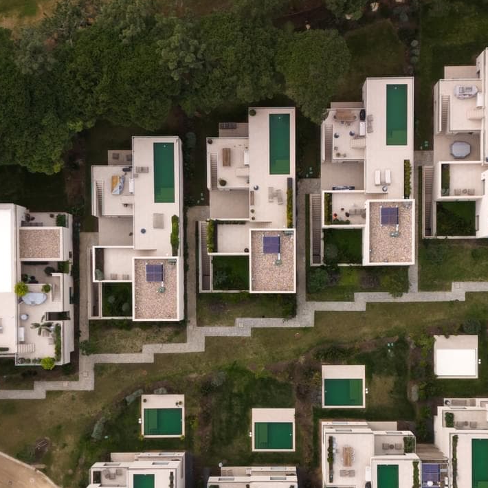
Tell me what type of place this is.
residential area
